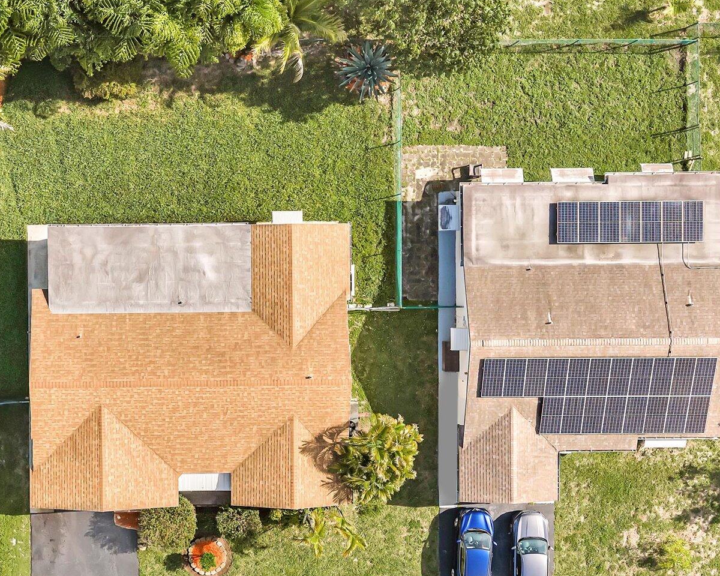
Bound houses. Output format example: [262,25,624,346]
[29,210,355,511]
[438,163,720,505]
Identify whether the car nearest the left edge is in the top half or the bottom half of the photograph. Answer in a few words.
bottom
